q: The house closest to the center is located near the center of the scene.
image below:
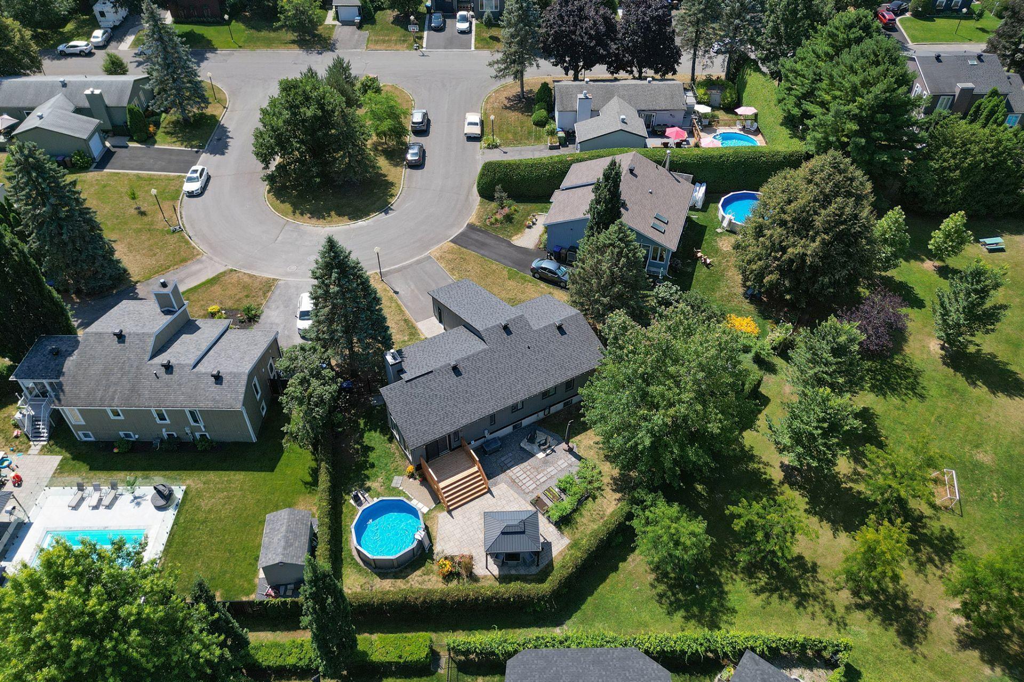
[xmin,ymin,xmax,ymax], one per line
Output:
[381,279,612,470]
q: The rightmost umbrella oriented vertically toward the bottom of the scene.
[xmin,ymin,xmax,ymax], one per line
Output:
[561,420,579,457]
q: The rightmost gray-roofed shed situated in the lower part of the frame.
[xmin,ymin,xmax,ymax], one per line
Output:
[712,651,779,682]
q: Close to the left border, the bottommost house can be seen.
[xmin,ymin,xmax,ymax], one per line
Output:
[12,284,280,438]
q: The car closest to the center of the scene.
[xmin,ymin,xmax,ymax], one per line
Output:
[526,256,583,287]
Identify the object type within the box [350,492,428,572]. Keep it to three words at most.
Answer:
swimming pool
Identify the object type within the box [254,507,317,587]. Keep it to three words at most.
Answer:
shed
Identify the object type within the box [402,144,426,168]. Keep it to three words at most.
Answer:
car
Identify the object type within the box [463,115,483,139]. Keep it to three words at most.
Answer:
car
